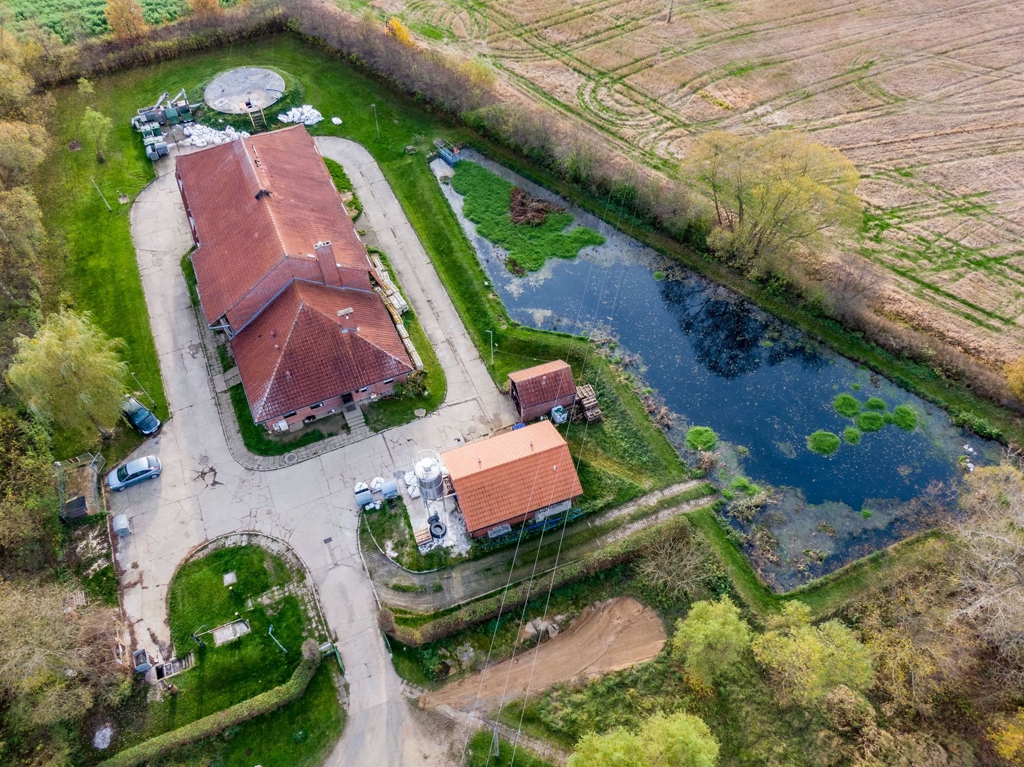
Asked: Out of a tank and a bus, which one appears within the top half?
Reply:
tank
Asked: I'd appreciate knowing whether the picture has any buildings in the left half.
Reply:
Yes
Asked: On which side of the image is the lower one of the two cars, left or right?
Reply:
left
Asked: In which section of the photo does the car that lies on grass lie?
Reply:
left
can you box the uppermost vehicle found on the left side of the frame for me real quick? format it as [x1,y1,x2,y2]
[118,393,158,433]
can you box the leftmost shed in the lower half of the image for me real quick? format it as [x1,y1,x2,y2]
[56,484,87,515]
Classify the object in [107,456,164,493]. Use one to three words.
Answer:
car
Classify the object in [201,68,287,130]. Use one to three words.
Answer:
storage tank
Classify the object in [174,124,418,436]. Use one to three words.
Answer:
building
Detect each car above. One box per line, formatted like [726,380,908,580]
[118,393,158,433]
[107,456,164,493]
